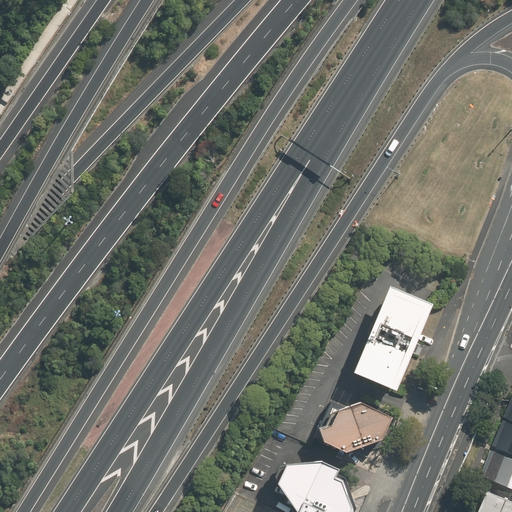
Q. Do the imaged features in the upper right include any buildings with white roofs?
No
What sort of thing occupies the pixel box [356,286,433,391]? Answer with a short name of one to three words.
building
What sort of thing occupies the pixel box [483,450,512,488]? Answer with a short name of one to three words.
house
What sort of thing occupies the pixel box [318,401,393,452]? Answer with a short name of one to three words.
building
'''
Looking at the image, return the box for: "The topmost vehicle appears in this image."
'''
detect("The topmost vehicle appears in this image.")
[384,138,399,156]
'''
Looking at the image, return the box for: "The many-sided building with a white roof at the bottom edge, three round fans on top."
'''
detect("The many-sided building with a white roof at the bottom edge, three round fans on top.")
[276,459,354,512]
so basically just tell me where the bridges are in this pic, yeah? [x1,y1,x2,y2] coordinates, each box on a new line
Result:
[0,0,162,276]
